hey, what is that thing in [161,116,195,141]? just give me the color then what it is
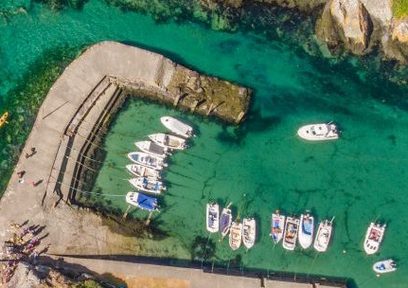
white boat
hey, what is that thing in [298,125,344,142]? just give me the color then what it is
white boat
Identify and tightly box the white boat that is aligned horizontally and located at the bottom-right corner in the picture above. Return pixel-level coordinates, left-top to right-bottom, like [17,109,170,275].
[373,259,400,272]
